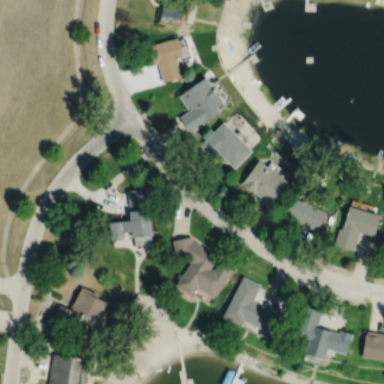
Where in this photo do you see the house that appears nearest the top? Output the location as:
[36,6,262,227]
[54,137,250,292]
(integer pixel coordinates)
[160,6,184,26]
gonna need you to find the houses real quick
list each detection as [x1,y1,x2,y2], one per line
[224,277,266,328]
[72,288,107,319]
[304,308,356,359]
[239,156,287,202]
[160,6,184,26]
[110,211,154,242]
[364,332,384,362]
[336,207,382,254]
[288,198,329,230]
[51,356,82,384]
[180,80,226,136]
[202,123,254,170]
[172,236,234,304]
[154,40,183,84]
